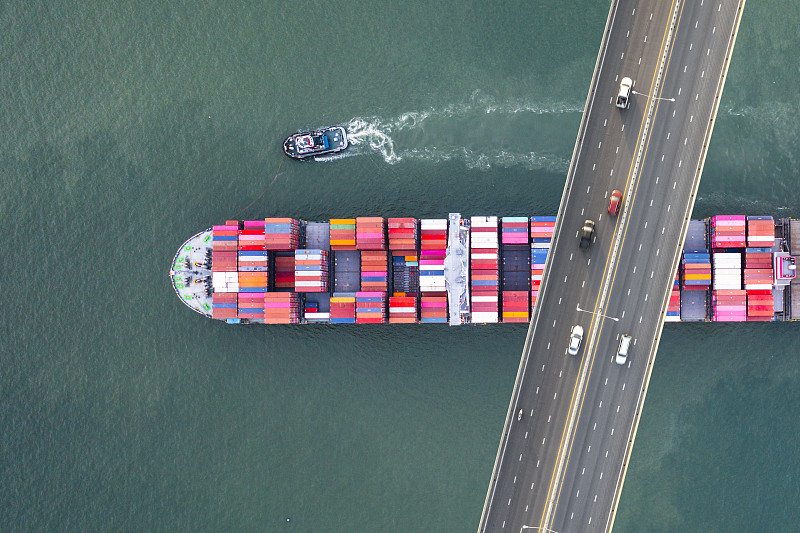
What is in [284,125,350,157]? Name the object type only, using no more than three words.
boat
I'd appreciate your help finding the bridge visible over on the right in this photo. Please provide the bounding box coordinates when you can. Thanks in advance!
[477,0,747,533]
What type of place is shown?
port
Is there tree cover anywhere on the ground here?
No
